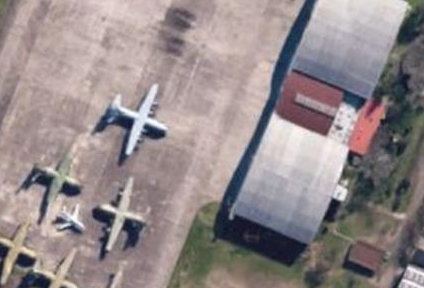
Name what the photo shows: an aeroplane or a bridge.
aeroplane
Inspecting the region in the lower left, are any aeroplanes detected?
Yes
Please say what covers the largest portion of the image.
paved ground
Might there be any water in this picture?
No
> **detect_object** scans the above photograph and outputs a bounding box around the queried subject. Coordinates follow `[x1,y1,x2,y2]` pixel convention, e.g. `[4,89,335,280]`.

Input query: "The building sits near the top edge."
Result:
[293,0,410,100]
